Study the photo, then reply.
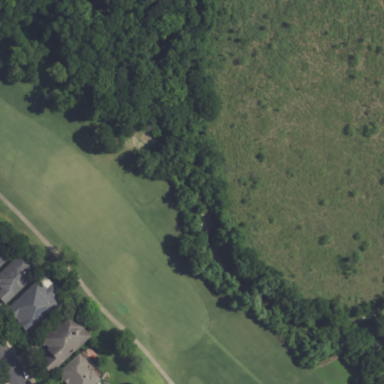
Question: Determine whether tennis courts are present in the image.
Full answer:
No, this view has no tennis court in it.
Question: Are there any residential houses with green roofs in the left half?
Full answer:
No, looking in the left half, there is no residential house with a green roof.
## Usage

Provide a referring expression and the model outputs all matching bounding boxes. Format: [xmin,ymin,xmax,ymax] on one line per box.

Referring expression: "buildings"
[0,261,35,304]
[12,284,57,328]
[62,356,100,384]
[48,318,89,370]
